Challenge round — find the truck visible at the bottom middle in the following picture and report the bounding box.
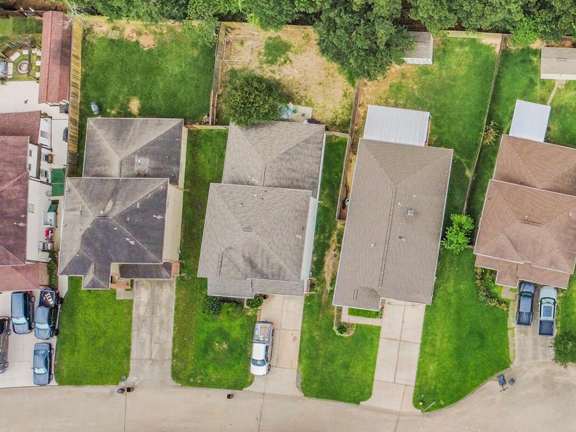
[250,321,274,375]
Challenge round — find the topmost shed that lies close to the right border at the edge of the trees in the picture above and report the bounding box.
[541,47,576,76]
